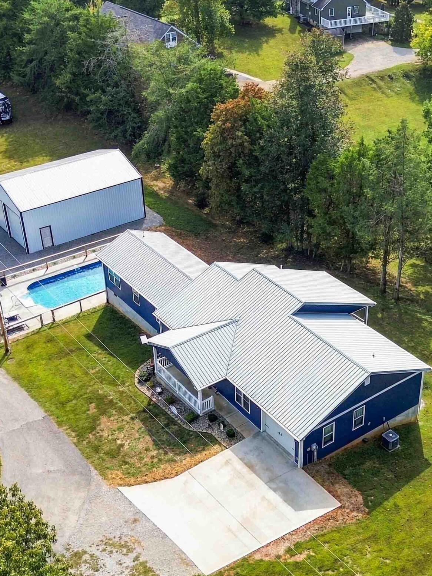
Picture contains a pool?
Yes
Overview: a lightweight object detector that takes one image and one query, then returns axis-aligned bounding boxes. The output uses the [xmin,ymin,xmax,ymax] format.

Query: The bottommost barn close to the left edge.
[0,148,145,254]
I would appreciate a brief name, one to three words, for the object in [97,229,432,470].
house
